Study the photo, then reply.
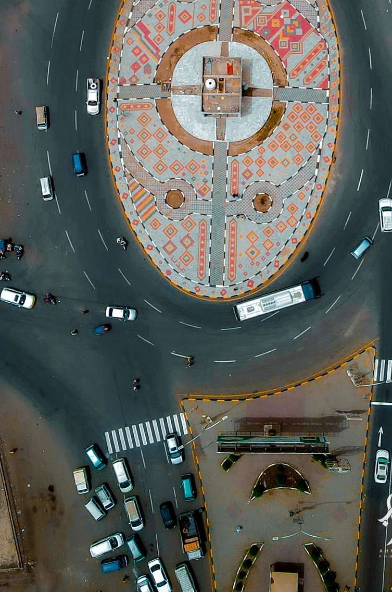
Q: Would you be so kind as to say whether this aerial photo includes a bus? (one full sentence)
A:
Yes, there's a bus down there.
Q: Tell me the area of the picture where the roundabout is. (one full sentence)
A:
The roundabout appears toward the top of the photo.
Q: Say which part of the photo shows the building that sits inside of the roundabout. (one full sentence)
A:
You can find the building that sits inside of the roundabout in the top area of the picture.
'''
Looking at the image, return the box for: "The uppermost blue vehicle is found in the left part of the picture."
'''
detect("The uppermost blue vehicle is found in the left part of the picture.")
[73,151,88,176]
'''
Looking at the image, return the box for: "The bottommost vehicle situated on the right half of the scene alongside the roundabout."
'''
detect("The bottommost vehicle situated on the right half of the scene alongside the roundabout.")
[232,277,324,324]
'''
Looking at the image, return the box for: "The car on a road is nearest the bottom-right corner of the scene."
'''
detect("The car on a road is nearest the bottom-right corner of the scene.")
[375,447,390,484]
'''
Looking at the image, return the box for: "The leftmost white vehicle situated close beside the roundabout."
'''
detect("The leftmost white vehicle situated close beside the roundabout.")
[85,78,100,116]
